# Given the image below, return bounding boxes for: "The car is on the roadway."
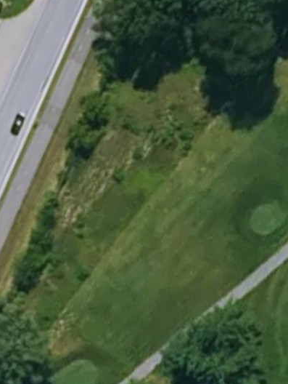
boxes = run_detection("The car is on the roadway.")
[9,111,25,135]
